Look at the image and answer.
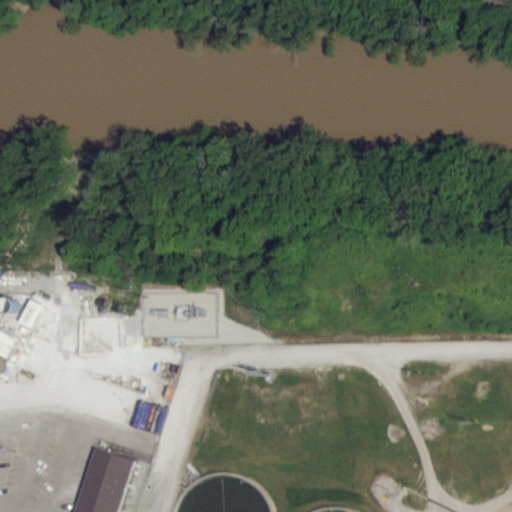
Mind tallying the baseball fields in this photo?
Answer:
0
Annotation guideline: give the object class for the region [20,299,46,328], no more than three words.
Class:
shed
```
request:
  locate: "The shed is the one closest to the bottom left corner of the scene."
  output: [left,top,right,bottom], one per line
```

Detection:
[78,447,137,512]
